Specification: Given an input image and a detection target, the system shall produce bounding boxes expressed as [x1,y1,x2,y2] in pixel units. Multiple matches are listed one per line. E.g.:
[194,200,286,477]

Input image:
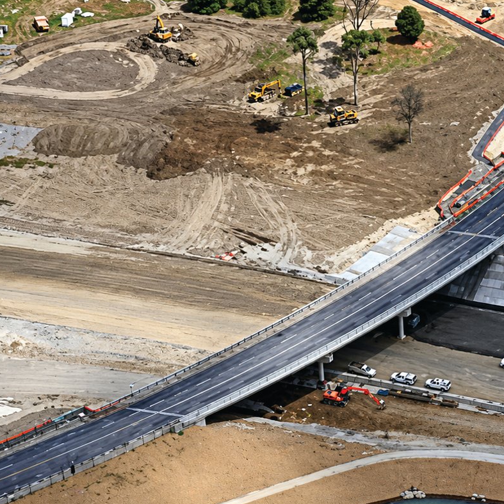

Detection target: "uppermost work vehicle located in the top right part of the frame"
[475,7,496,24]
